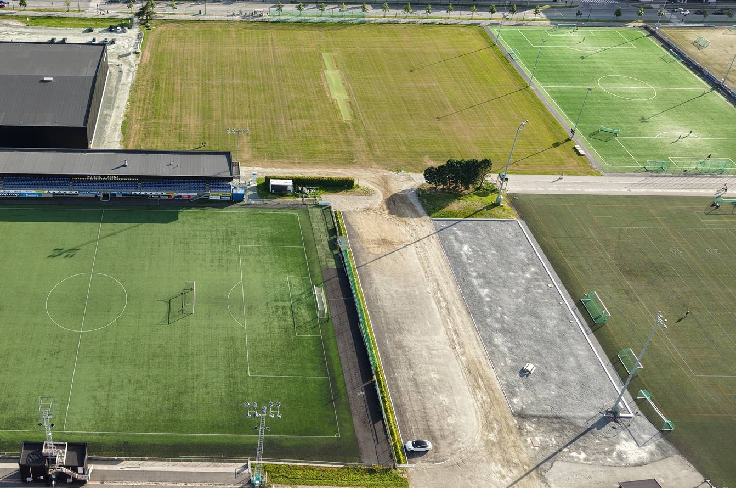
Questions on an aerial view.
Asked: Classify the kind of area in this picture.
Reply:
sports ground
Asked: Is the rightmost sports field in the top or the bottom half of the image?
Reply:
top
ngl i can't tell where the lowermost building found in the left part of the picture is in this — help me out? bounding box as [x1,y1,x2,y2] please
[17,437,91,488]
